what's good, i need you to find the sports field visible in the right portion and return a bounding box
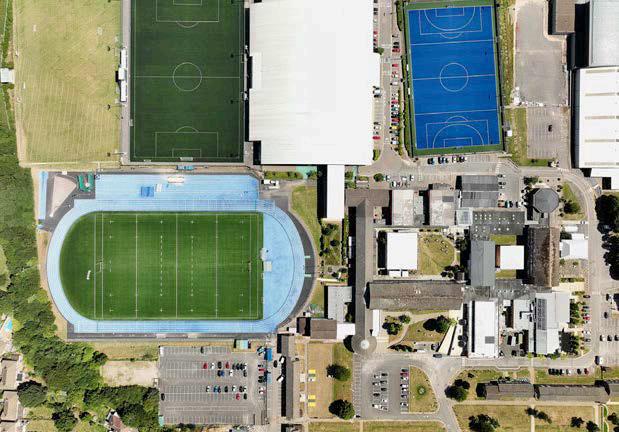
[406,0,503,156]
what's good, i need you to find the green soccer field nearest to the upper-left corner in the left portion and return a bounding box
[131,0,244,161]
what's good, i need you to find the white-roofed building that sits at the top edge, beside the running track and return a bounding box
[249,0,380,167]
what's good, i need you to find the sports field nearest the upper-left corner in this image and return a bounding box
[13,0,121,162]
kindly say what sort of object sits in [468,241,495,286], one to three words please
building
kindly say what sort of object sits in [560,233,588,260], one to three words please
shed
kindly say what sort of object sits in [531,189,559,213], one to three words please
building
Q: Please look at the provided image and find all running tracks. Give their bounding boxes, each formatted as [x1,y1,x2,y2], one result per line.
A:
[36,172,314,341]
